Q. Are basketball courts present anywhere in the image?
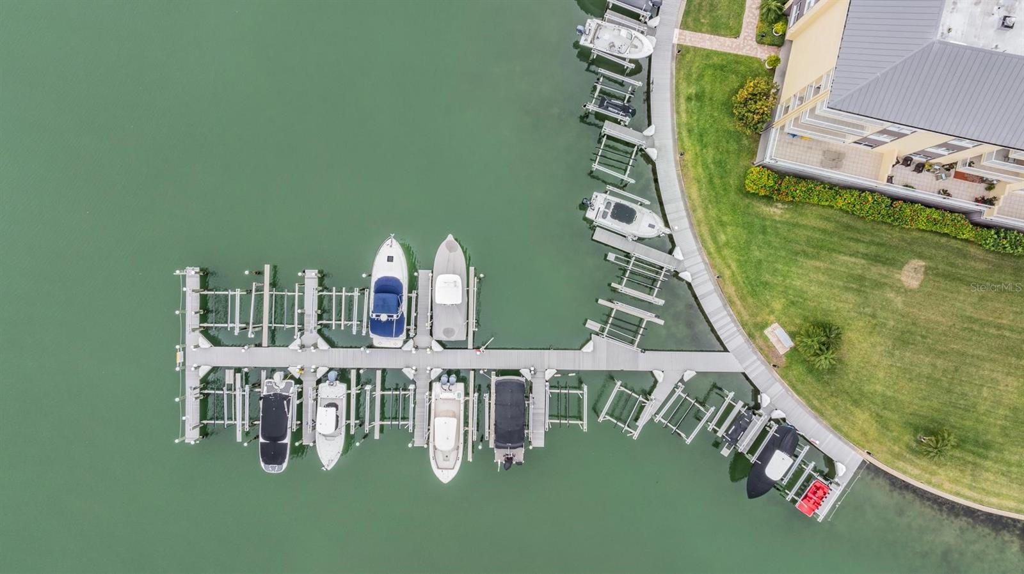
No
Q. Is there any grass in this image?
Yes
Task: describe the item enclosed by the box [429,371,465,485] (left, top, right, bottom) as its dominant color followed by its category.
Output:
white boat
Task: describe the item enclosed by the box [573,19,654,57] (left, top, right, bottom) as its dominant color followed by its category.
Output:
white boat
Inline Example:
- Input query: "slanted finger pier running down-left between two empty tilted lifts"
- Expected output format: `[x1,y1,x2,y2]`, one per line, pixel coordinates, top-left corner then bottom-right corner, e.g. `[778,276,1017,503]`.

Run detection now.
[635,371,684,426]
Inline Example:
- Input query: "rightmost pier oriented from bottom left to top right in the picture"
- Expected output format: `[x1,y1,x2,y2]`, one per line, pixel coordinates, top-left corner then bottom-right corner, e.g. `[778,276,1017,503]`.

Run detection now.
[815,465,858,521]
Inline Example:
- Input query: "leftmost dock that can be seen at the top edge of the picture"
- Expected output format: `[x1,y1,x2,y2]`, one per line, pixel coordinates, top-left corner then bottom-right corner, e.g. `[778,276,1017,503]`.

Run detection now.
[606,9,656,36]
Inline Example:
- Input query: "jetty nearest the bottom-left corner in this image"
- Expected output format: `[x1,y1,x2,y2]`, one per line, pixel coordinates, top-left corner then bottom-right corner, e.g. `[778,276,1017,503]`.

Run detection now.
[185,366,204,443]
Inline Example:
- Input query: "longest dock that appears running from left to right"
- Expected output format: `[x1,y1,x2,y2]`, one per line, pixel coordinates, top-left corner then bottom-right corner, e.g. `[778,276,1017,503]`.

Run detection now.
[186,347,744,373]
